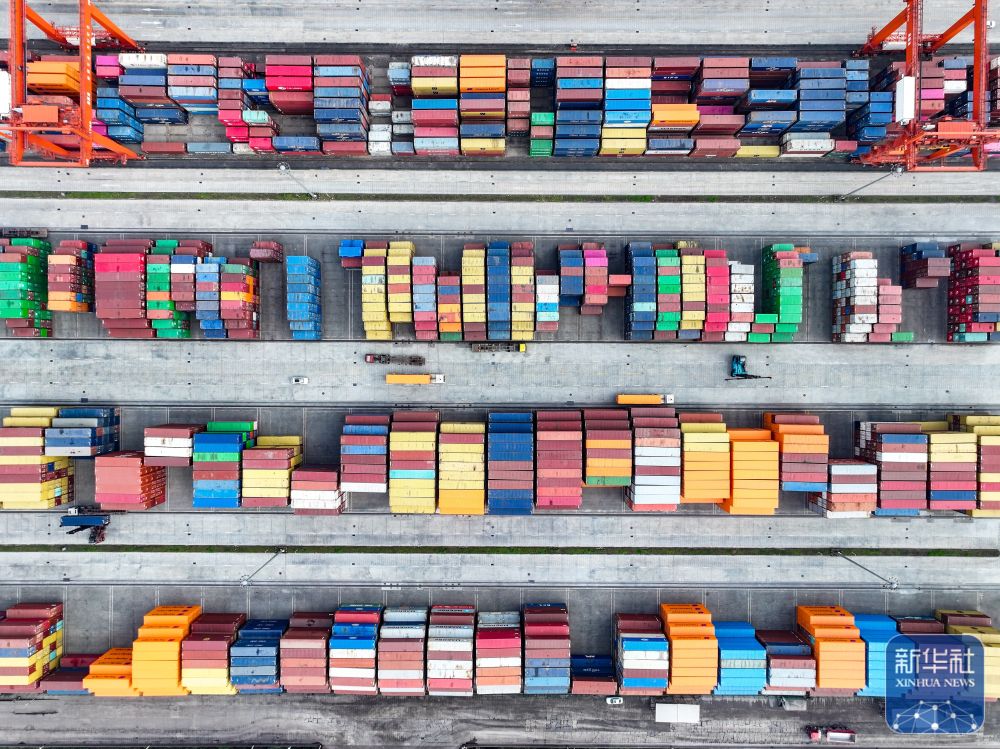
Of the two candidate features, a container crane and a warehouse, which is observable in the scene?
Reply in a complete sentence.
Of the two, only a container crane appears.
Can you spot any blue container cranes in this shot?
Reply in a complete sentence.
No, the picture doesn't show any blue container crane.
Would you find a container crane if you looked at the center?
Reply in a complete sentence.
No, I see no container crane at the center.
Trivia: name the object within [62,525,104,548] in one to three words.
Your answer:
work vehicle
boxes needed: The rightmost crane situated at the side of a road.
[856,0,1000,172]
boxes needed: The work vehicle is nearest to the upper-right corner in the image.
[725,350,774,380]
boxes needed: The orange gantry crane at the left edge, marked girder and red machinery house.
[0,0,146,168]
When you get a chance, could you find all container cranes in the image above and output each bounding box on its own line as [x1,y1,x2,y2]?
[0,0,146,168]
[856,0,1000,172]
